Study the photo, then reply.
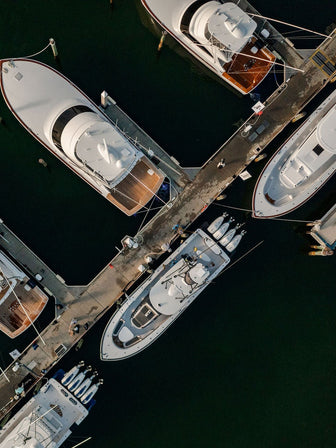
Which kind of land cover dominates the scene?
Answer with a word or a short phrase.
water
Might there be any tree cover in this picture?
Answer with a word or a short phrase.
No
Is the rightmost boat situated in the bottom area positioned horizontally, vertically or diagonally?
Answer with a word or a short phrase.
diagonally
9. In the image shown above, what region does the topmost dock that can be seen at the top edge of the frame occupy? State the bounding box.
[243,0,316,82]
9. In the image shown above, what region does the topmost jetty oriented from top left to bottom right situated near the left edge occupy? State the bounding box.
[0,219,86,319]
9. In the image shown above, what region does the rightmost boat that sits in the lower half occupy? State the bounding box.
[100,213,263,361]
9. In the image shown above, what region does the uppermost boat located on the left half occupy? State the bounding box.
[0,58,168,217]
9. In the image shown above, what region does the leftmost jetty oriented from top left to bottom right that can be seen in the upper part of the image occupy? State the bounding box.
[101,101,201,205]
